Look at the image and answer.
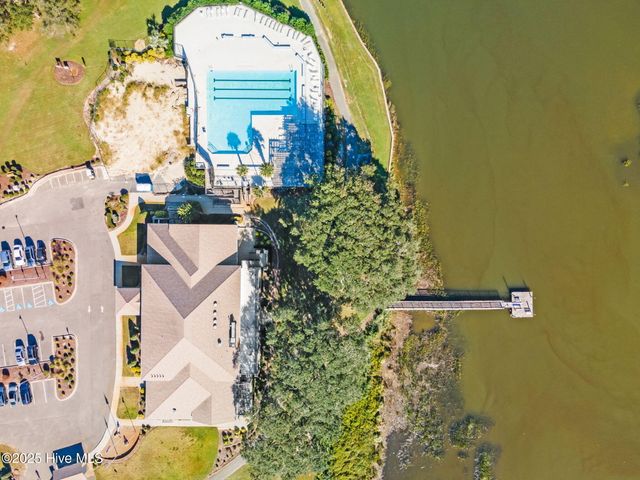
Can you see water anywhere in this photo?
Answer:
Yes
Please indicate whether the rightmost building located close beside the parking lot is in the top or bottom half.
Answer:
bottom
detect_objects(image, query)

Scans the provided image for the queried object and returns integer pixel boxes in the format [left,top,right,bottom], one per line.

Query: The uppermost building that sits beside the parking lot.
[116,222,260,428]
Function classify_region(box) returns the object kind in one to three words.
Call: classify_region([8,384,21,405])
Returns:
vehicle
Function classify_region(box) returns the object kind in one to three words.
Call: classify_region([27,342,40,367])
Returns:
vehicle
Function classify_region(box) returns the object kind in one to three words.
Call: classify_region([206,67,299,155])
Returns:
swimming pool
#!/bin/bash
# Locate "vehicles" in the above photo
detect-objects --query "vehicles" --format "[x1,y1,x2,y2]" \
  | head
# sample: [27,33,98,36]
[14,246,26,266]
[0,249,14,270]
[24,246,38,266]
[0,384,9,406]
[8,384,21,405]
[27,342,40,367]
[20,382,34,403]
[16,346,28,366]
[37,246,49,267]
[85,168,96,179]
